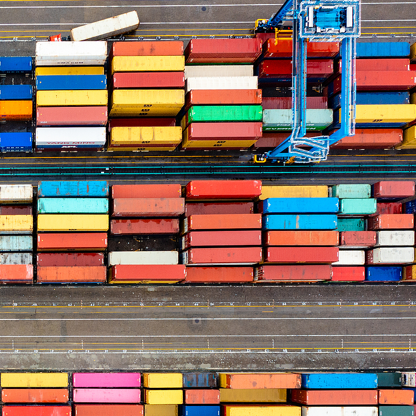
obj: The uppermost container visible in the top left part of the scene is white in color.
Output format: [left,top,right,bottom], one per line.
[70,10,139,40]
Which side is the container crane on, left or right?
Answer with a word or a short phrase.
right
